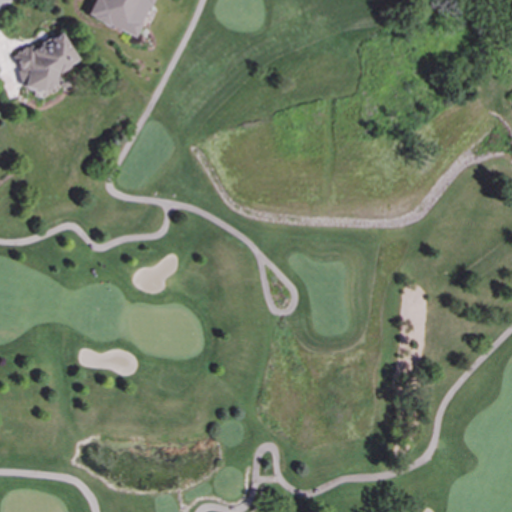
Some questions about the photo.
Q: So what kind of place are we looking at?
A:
golf course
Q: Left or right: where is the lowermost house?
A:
left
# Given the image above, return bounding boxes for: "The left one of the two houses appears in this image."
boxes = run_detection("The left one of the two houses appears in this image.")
[9,30,82,98]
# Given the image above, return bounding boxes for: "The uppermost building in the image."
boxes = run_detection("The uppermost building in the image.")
[90,0,158,38]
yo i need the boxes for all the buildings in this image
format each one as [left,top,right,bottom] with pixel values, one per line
[9,30,82,98]
[90,0,158,38]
